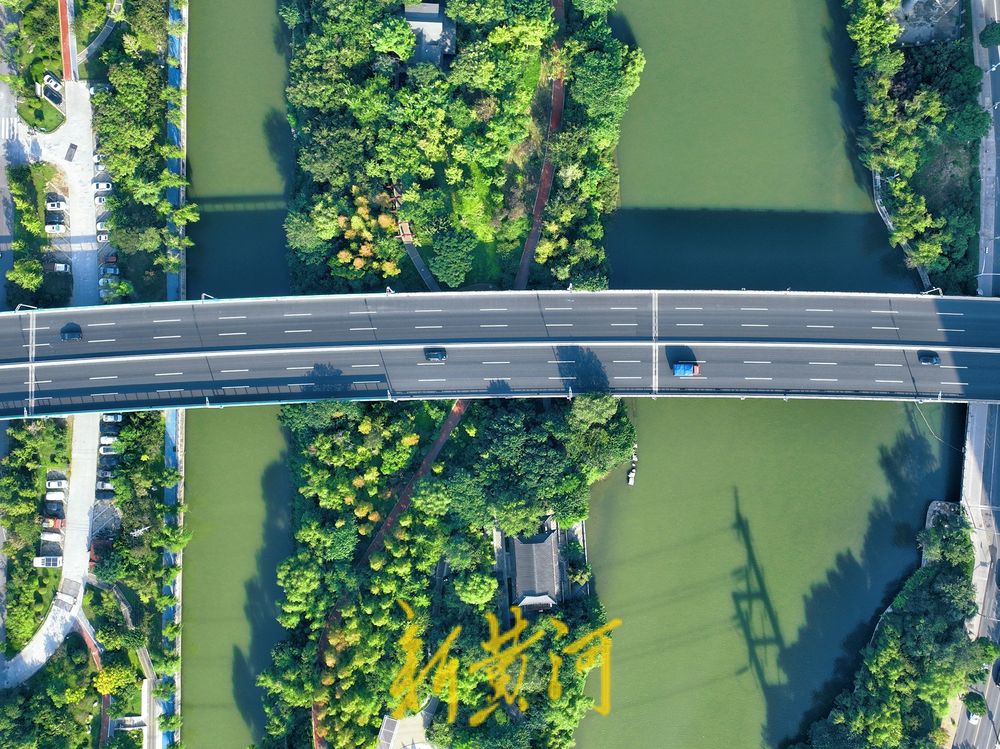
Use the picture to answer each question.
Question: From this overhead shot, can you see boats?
No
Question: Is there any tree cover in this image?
Yes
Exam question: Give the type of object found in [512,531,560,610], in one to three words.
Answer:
building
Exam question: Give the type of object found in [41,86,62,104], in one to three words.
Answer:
car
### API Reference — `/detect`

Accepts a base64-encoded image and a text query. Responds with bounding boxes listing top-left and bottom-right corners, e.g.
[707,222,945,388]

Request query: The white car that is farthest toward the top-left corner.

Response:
[43,72,62,90]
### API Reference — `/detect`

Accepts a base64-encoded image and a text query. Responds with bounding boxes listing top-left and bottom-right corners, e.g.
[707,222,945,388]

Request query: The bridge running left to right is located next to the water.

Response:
[0,291,1000,420]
